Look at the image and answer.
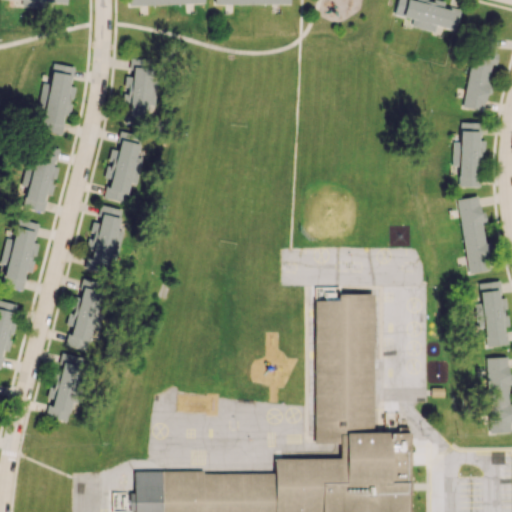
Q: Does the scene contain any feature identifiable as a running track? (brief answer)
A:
No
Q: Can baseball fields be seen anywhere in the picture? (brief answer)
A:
Yes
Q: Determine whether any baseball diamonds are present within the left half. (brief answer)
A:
No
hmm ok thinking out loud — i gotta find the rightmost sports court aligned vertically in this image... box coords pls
[384,286,427,388]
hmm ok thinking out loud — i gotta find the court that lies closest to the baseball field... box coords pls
[282,248,427,286]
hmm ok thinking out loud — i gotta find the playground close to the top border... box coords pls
[316,0,363,22]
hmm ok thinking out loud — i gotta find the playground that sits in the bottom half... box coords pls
[250,332,298,403]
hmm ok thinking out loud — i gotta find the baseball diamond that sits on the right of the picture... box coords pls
[301,182,359,242]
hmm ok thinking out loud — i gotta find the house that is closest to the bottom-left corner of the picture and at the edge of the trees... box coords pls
[48,353,87,424]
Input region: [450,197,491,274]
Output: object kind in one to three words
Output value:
house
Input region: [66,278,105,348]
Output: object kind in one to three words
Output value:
house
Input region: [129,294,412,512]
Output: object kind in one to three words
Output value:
building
